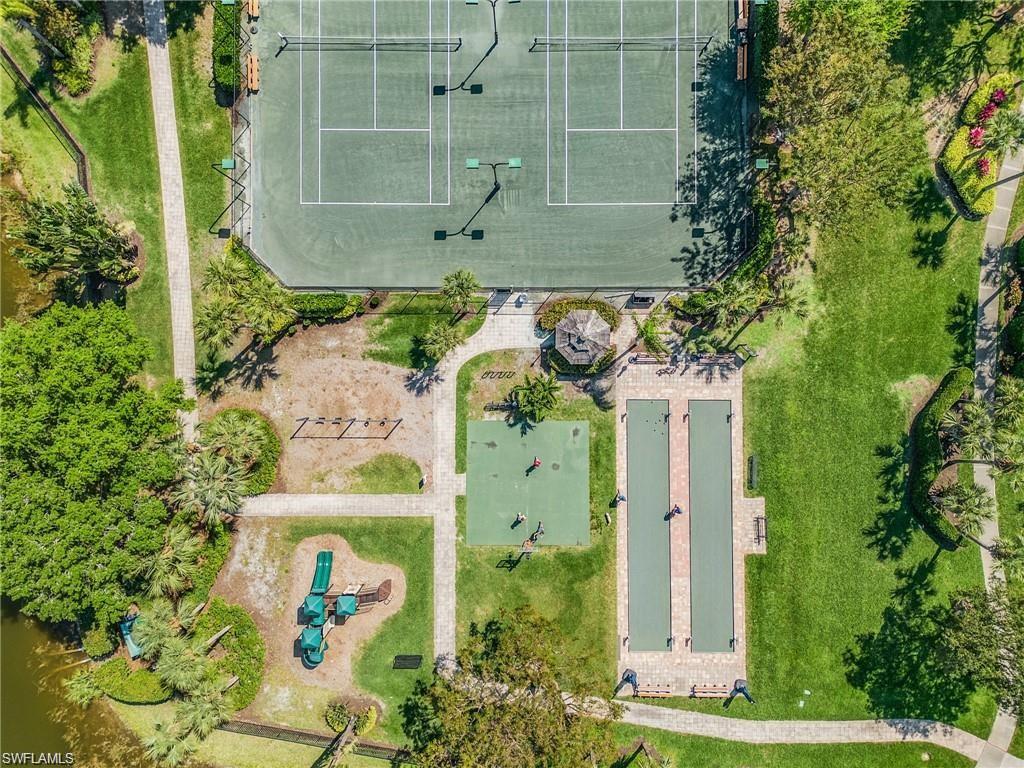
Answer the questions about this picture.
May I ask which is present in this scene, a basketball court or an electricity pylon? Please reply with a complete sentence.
The one in the frame is a basketball court.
